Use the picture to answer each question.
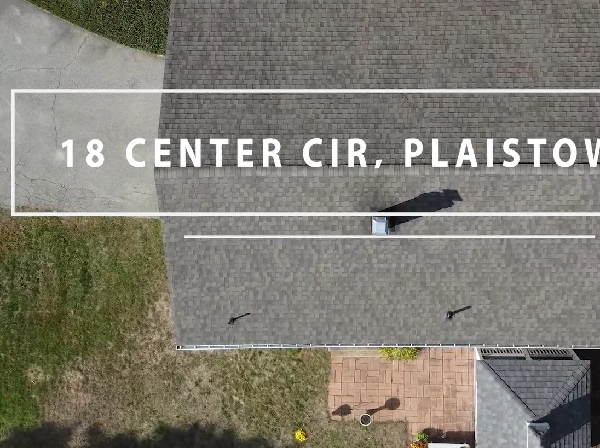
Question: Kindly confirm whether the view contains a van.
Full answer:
No, the picture doesn't show any van.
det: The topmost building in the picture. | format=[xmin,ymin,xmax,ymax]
[154,0,600,350]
